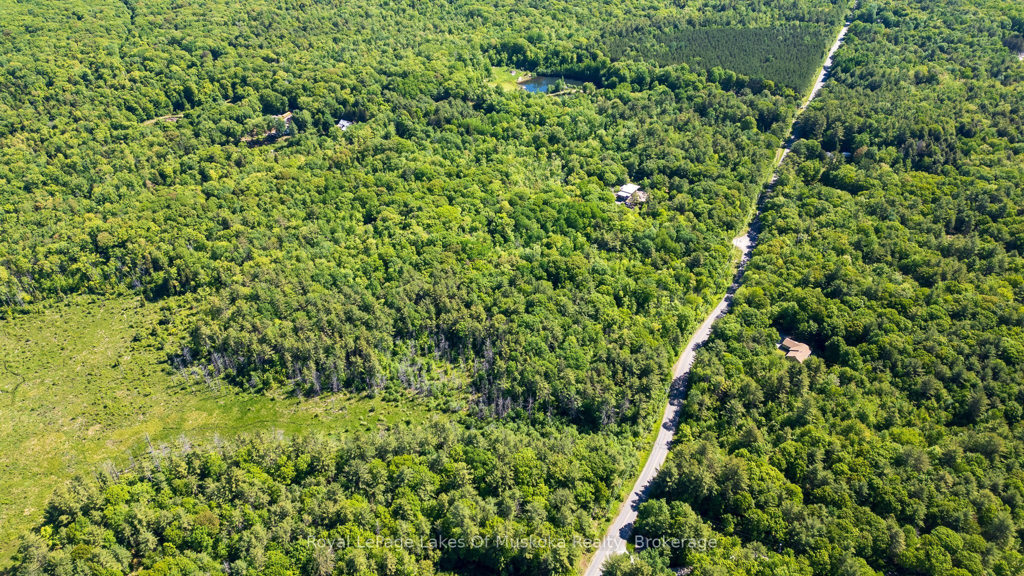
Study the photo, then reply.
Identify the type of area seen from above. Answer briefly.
forest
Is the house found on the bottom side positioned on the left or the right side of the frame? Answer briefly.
right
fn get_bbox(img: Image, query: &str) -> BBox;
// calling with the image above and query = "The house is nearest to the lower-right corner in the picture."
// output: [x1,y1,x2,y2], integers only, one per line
[782,341,812,367]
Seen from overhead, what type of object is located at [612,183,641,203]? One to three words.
house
